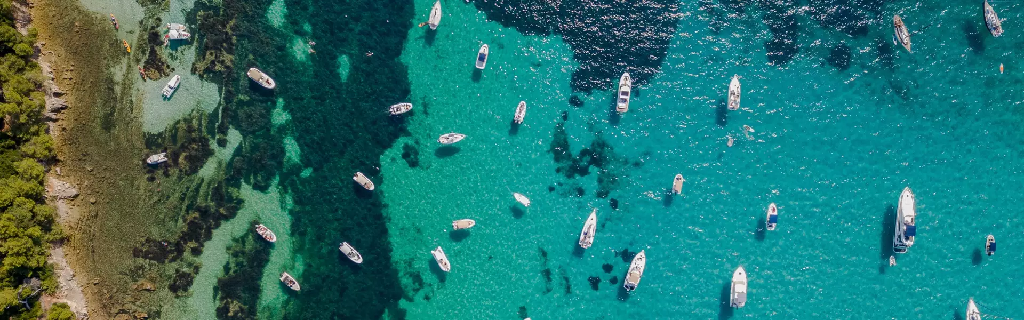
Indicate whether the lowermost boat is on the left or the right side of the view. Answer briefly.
right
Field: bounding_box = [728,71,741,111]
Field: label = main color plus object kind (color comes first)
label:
white boat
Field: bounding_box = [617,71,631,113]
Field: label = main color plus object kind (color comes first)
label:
white boat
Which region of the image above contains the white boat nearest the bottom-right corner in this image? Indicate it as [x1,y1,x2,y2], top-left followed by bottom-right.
[966,299,1005,320]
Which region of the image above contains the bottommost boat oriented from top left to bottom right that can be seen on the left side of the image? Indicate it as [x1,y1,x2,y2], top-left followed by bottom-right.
[279,274,300,290]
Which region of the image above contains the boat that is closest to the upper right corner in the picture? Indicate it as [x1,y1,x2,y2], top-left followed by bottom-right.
[982,0,1015,38]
